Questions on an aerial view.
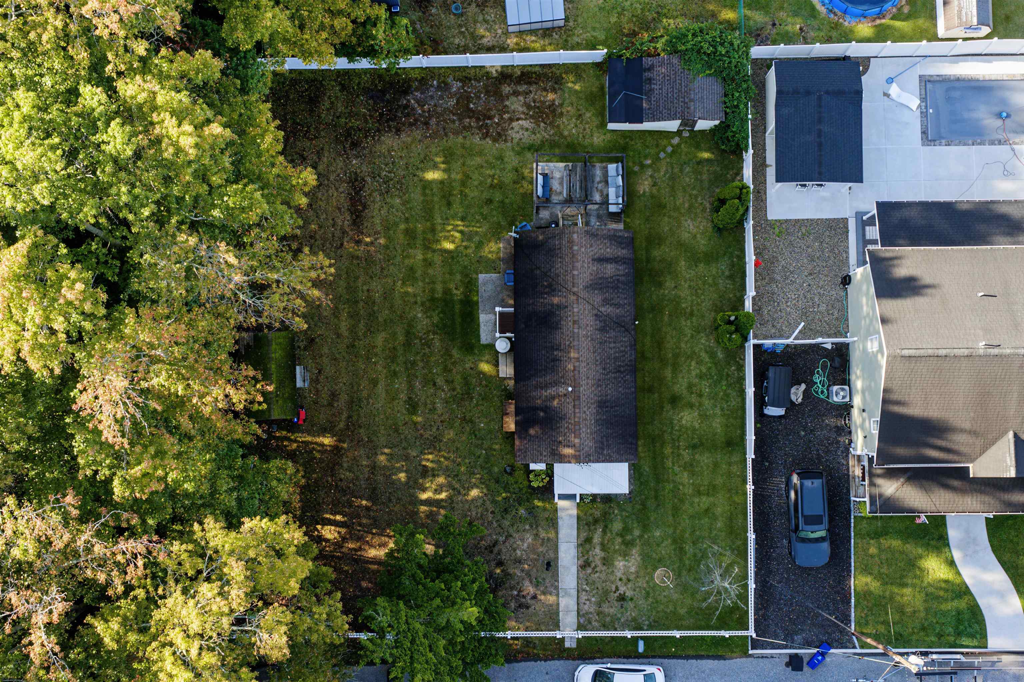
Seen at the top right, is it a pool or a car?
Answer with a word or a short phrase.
pool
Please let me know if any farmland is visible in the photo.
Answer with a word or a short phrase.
No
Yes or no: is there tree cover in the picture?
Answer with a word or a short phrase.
Yes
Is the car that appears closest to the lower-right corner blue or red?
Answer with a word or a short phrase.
blue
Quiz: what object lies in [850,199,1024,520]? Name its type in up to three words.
house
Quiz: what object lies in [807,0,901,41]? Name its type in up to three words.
swimming pool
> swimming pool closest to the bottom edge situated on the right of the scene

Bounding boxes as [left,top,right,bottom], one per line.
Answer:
[920,74,1024,146]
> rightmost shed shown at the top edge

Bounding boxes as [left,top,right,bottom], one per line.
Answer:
[938,0,1008,38]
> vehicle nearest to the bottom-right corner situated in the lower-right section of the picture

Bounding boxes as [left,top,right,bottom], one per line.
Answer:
[785,470,836,564]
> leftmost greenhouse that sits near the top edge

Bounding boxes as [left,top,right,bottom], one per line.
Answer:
[507,0,565,32]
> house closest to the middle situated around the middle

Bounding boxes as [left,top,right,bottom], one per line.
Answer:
[496,227,639,507]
